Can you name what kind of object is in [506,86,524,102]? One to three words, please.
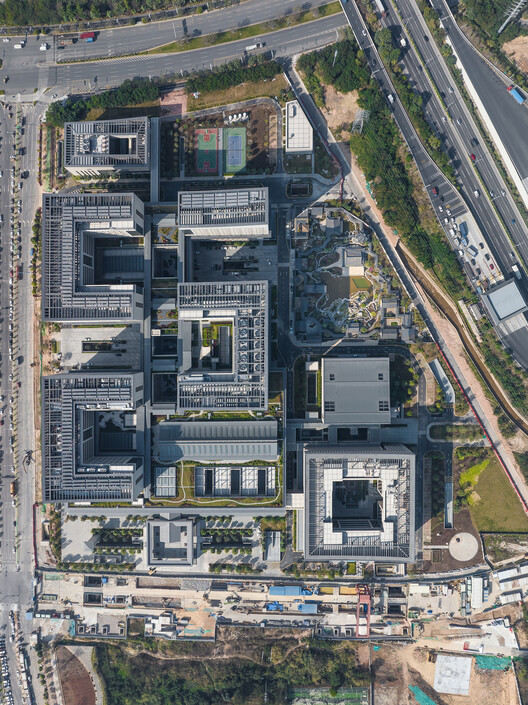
vehicle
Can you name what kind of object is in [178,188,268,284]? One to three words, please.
building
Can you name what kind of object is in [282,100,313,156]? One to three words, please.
building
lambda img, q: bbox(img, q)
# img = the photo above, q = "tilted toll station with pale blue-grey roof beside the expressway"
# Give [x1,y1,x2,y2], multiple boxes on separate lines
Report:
[481,280,527,326]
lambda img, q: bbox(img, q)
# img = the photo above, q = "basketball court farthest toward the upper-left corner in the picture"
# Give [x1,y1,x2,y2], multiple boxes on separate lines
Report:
[196,128,218,172]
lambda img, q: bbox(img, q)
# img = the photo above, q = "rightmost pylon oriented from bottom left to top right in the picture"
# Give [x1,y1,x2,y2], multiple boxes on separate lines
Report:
[495,0,524,31]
